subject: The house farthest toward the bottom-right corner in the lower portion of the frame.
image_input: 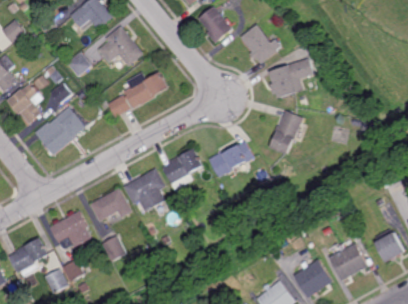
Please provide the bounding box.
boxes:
[374,232,405,262]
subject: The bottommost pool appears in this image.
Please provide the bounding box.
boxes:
[164,210,182,227]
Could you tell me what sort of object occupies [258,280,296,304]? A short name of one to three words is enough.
house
